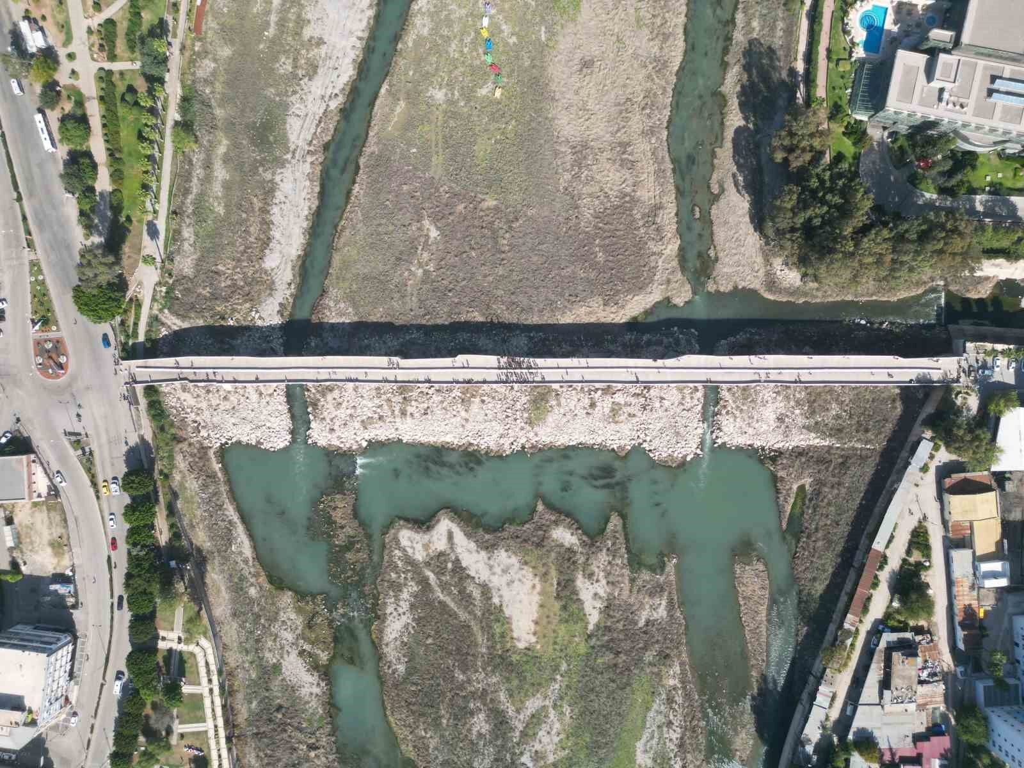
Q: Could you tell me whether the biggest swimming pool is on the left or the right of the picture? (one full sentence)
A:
The biggest swimming pool is on the right side of the image.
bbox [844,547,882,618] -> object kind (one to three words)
shed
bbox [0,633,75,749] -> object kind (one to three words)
building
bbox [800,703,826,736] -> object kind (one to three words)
shed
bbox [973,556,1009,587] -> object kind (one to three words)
house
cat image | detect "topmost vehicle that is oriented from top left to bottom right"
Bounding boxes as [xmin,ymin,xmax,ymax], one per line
[7,77,23,96]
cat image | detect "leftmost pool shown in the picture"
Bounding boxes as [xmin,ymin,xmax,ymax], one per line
[857,3,890,56]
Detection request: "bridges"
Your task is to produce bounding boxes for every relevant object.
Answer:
[122,355,960,385]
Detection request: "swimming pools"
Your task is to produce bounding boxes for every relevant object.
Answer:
[924,14,937,27]
[857,3,890,56]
